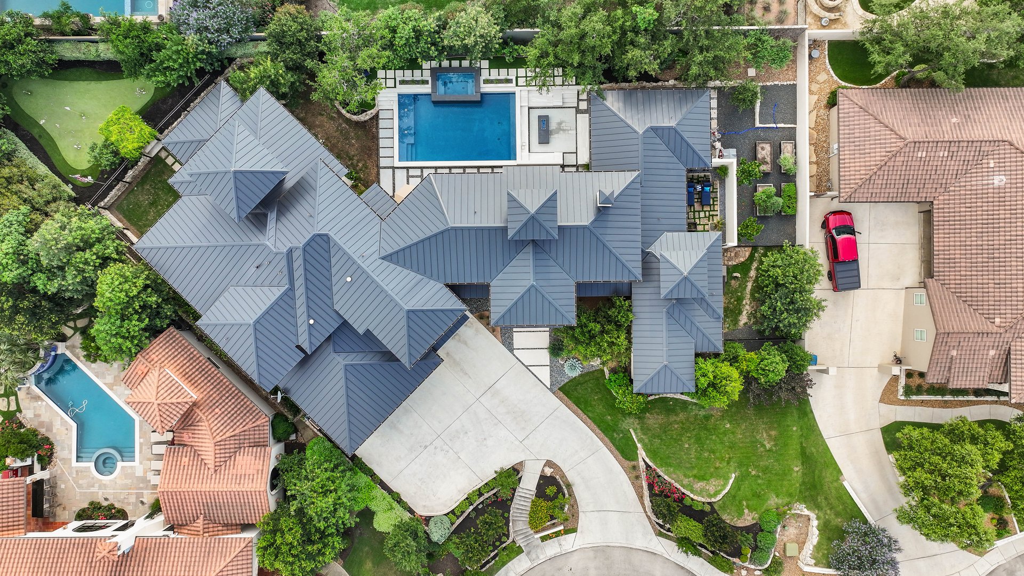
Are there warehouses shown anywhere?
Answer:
No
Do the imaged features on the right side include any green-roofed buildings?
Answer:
No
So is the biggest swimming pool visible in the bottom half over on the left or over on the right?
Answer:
left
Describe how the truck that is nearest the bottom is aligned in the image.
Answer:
from top to bottom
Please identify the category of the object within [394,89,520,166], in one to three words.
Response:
swimming pool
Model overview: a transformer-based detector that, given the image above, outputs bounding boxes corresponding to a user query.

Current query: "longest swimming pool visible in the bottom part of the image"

[22,341,139,466]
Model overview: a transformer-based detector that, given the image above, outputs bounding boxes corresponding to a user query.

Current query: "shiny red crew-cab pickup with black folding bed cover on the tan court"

[819,210,860,293]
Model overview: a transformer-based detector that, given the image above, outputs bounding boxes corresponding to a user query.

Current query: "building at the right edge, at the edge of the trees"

[826,87,1024,403]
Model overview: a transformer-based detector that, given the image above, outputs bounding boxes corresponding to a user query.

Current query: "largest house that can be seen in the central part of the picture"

[132,78,725,456]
